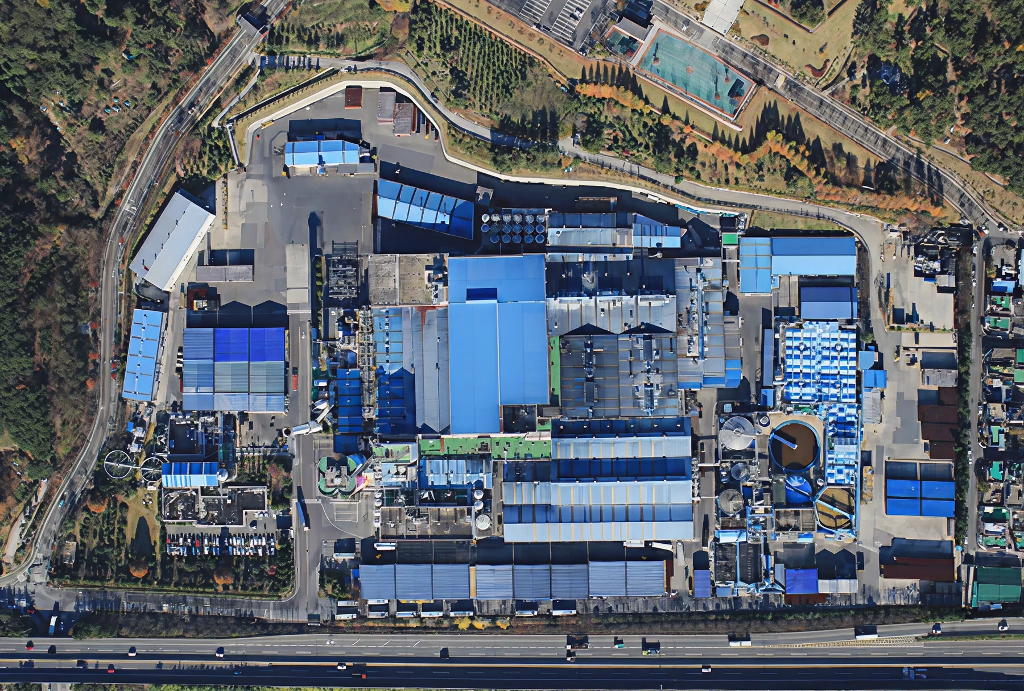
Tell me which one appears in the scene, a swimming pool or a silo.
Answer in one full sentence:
It is a silo that can be seen here.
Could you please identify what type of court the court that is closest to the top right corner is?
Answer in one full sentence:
It looks like the court that is closest to the top right corner is a tennis court.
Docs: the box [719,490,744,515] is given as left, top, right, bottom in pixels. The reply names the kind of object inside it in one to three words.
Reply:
water tank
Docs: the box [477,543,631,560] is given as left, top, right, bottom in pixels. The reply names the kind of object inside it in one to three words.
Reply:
shed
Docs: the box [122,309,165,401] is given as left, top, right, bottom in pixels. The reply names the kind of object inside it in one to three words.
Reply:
building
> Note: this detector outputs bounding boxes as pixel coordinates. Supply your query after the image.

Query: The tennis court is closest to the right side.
[637,29,756,118]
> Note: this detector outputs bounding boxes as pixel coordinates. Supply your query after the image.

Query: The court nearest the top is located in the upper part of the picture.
[606,27,642,60]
